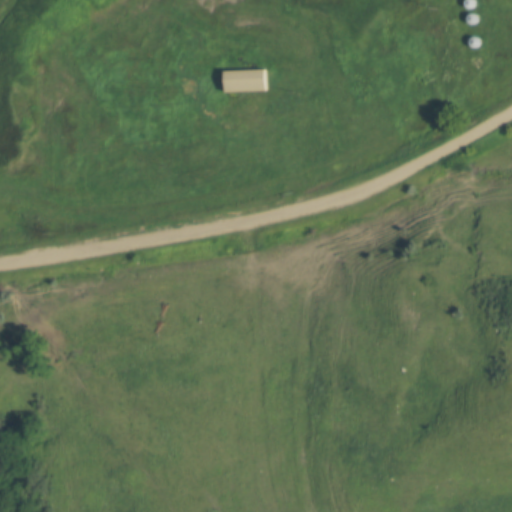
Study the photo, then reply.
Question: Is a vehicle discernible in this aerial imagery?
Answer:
No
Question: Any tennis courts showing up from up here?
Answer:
No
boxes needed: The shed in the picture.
[224,68,268,93]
